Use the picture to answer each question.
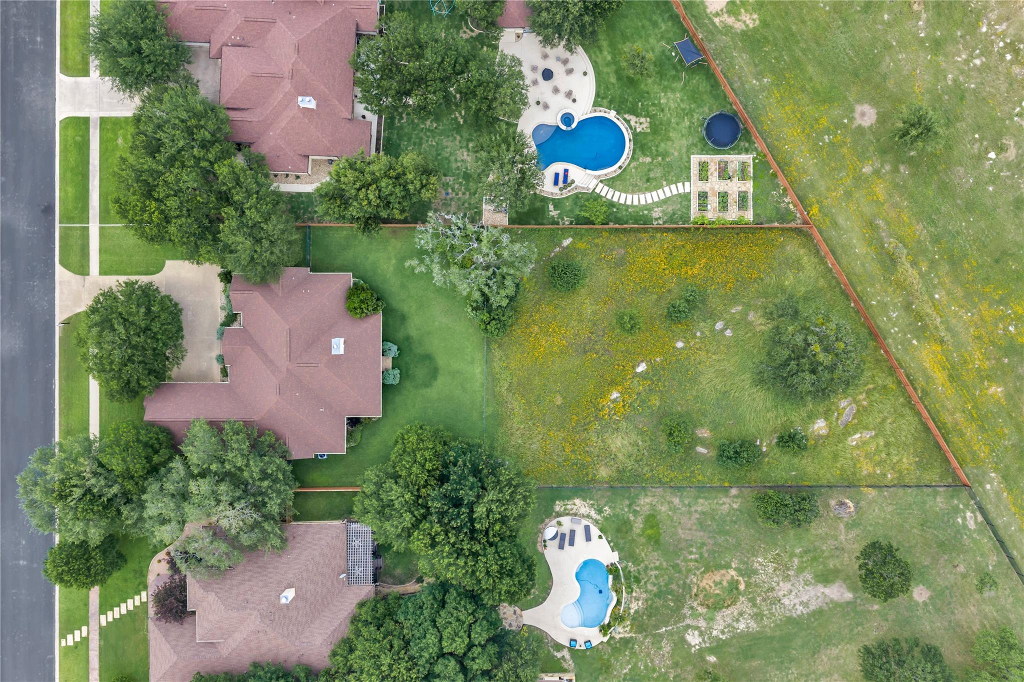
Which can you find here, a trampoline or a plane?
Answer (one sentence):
It is a trampoline that can be seen here.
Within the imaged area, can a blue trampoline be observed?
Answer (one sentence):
Yes, looking at the shot, I can spot a blue trampoline.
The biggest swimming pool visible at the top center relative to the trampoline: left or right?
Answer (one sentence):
Relative to the trampoline, the biggest swimming pool visible at the top center is on the left.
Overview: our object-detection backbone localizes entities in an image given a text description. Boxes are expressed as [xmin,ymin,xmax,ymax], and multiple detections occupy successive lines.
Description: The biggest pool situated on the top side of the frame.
[530,108,629,173]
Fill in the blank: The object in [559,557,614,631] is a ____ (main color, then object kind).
blue swimming pool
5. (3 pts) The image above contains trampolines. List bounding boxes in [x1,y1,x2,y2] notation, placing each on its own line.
[696,107,744,149]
